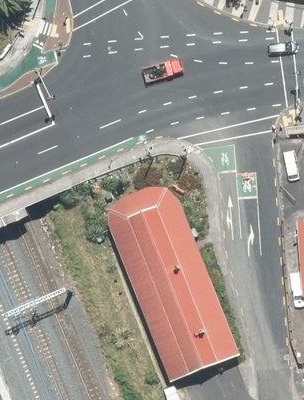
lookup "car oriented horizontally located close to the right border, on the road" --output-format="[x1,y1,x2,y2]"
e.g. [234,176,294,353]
[268,40,299,56]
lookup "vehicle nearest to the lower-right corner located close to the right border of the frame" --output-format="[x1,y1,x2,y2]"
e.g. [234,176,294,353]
[290,274,304,308]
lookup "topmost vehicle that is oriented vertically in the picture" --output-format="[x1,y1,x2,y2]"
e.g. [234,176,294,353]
[284,150,301,181]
